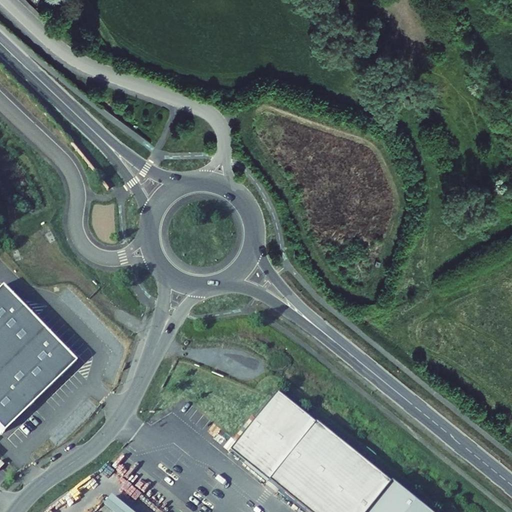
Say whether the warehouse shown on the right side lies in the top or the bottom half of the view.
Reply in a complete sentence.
Seen from above, the warehouse shown on the right side lies in the bottom half of the view.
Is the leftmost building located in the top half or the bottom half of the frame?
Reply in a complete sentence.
It is in the bottom half that the leftmost building appears.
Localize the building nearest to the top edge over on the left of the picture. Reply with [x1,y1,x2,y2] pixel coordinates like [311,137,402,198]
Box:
[0,283,79,436]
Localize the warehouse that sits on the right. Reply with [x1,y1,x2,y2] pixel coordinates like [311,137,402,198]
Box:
[232,390,435,512]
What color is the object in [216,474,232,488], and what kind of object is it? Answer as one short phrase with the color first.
white vehicle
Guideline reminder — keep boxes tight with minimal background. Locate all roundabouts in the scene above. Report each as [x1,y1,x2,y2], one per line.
[134,165,268,314]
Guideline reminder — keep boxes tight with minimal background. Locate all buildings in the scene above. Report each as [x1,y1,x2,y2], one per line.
[0,283,79,436]
[232,390,435,512]
[100,492,135,512]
